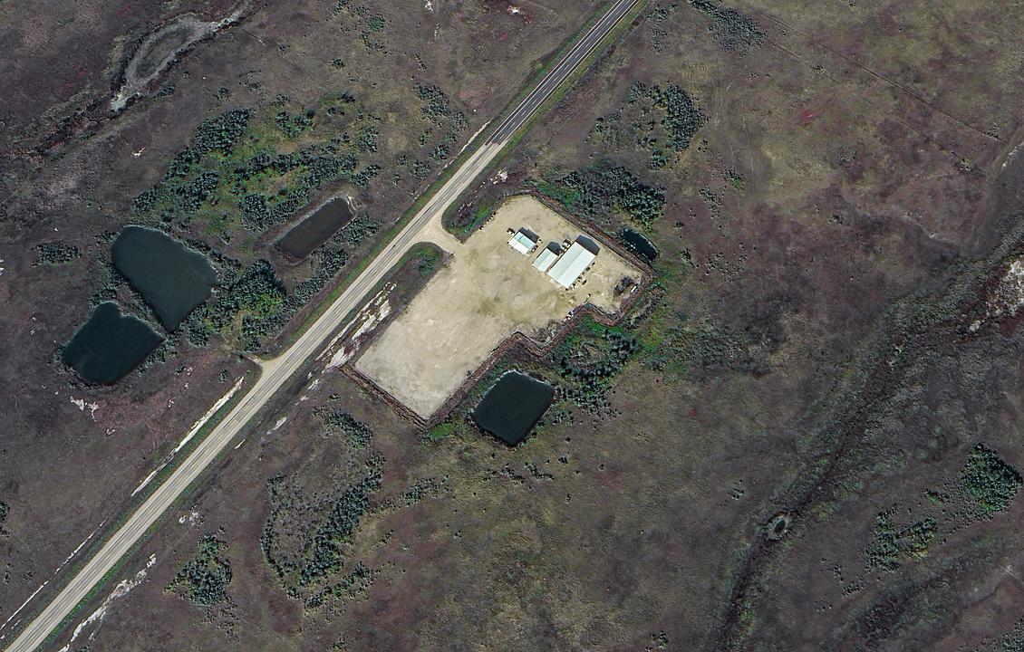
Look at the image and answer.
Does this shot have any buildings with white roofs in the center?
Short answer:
Yes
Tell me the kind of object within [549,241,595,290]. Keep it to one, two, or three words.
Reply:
building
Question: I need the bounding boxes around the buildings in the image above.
[509,230,535,255]
[533,247,558,273]
[549,241,595,290]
